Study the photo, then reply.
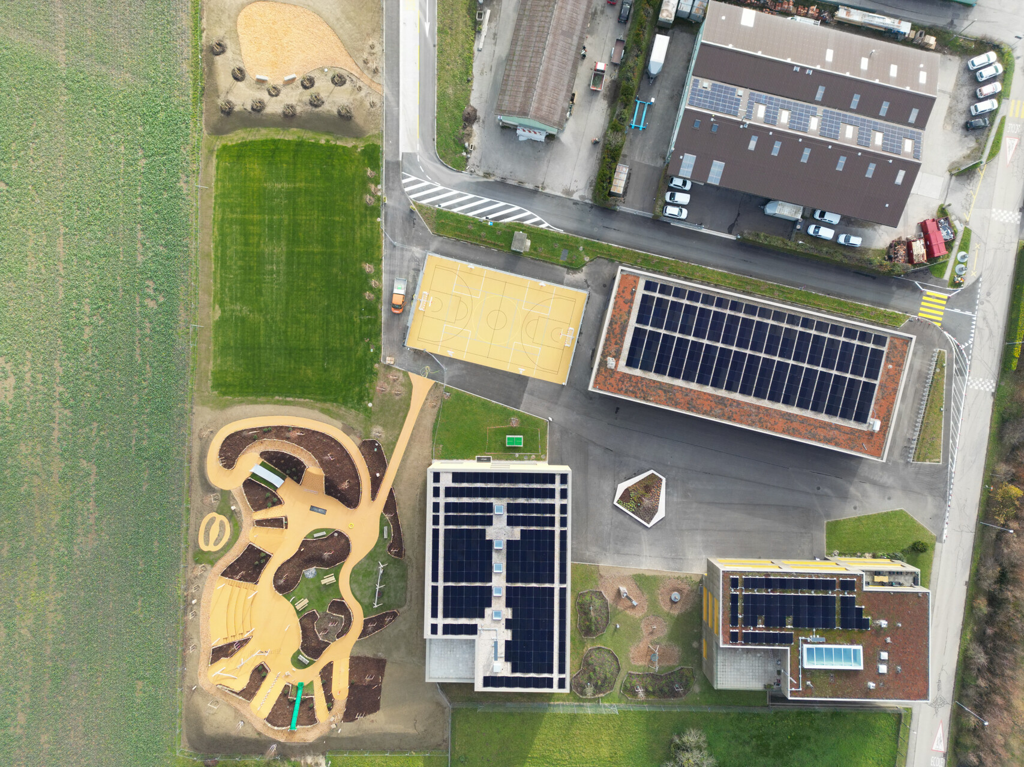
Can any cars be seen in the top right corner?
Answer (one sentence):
Yes, a car can be seen in the top right corner.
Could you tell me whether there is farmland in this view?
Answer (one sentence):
Yes, there's farmland in this view.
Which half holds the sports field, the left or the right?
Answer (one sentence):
The sports field sits on the left side.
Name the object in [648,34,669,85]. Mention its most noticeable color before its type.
white trailer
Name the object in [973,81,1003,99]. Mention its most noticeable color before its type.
white car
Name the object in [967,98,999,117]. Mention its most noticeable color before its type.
white car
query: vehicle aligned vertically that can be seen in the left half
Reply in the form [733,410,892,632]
[389,277,407,314]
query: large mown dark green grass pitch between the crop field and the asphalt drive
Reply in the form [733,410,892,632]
[211,139,383,415]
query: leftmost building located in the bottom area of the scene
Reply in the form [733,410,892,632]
[424,462,571,693]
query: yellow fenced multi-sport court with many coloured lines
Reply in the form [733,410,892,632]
[404,251,590,385]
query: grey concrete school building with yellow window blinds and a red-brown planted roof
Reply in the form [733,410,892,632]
[698,556,931,702]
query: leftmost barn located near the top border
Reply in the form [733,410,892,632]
[495,0,592,135]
